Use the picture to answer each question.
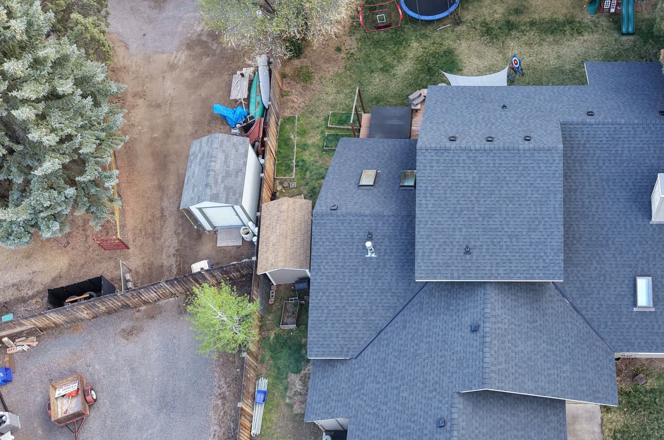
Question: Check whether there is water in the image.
No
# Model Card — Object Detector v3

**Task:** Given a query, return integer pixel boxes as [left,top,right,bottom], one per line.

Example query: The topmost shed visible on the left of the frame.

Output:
[184,133,261,231]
